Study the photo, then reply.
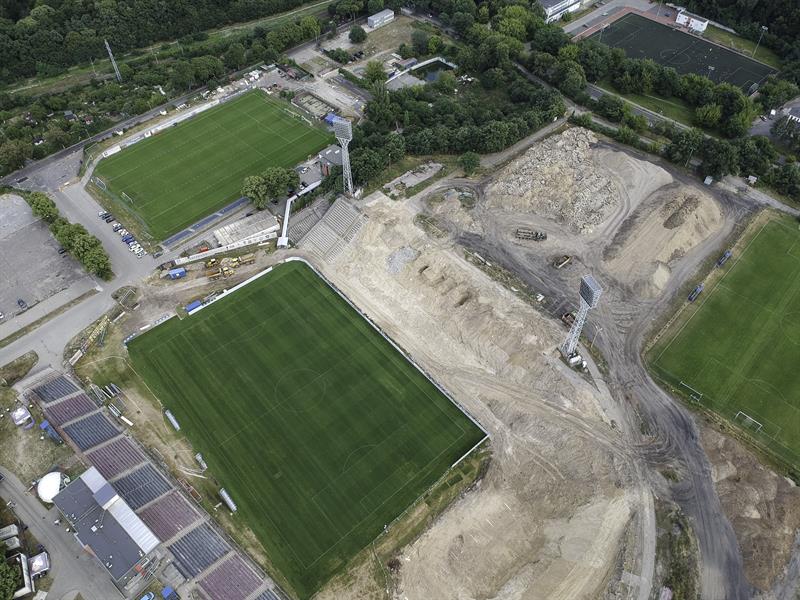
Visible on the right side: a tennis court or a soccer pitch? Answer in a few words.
soccer pitch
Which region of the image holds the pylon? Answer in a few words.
top left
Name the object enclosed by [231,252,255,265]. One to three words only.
vehicle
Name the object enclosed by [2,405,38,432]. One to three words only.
building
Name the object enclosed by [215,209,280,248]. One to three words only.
shed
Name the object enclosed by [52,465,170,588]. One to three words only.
building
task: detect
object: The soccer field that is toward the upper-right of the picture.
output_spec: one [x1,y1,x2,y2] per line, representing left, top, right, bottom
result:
[573,12,778,108]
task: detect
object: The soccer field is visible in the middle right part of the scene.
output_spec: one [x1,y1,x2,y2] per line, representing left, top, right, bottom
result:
[649,216,800,474]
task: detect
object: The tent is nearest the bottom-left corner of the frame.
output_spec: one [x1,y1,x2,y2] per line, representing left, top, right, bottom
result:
[28,552,52,577]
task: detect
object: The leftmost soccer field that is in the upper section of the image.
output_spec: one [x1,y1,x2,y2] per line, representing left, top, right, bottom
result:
[97,88,334,241]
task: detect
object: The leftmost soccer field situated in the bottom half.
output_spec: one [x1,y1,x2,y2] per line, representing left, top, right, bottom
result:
[126,260,486,600]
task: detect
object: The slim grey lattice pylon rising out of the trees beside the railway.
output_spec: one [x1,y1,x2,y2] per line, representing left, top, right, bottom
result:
[102,40,122,82]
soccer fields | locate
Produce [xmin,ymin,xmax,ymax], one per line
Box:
[649,216,800,474]
[573,12,778,108]
[126,260,486,600]
[97,88,334,241]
